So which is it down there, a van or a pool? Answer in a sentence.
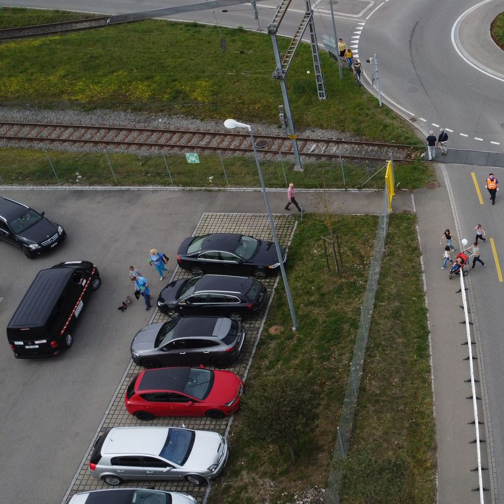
Looking from above, you can make out a van.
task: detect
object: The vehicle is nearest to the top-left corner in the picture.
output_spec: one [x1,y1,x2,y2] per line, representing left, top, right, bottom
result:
[0,191,65,260]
